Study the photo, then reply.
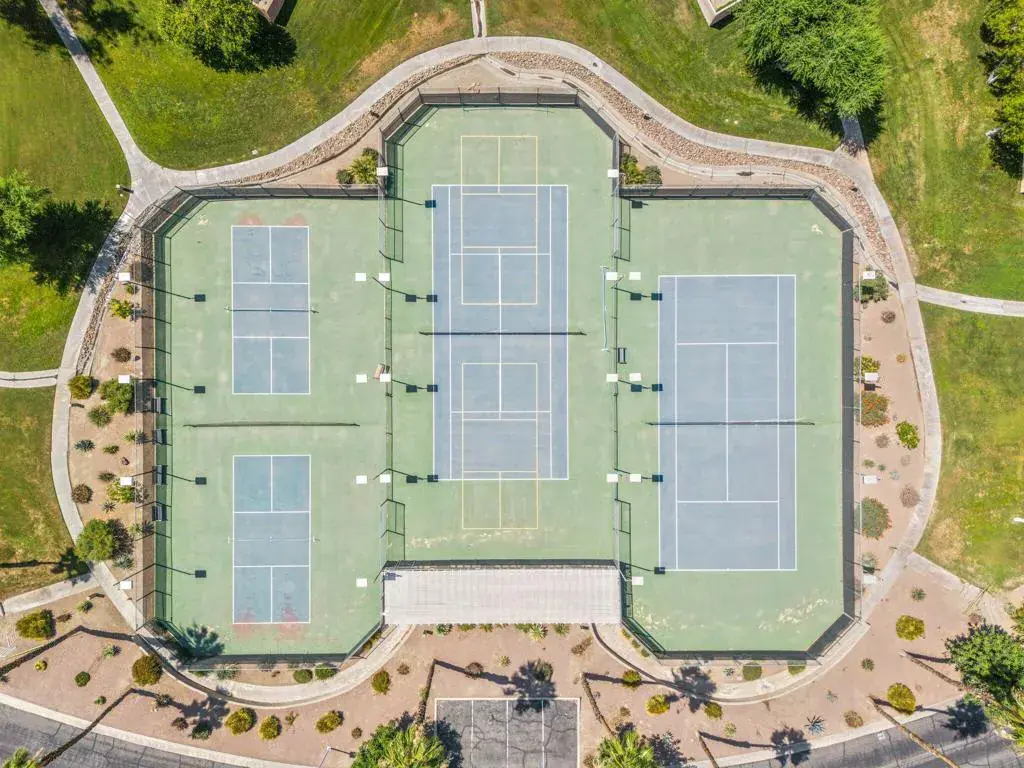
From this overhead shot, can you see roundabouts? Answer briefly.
No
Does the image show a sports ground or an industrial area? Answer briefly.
sports ground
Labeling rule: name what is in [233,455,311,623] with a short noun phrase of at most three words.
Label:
sports court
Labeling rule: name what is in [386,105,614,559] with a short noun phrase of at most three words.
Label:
tennis court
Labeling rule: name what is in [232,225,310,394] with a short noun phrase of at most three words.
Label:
sports court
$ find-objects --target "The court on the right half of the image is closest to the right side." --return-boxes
[614,198,844,652]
